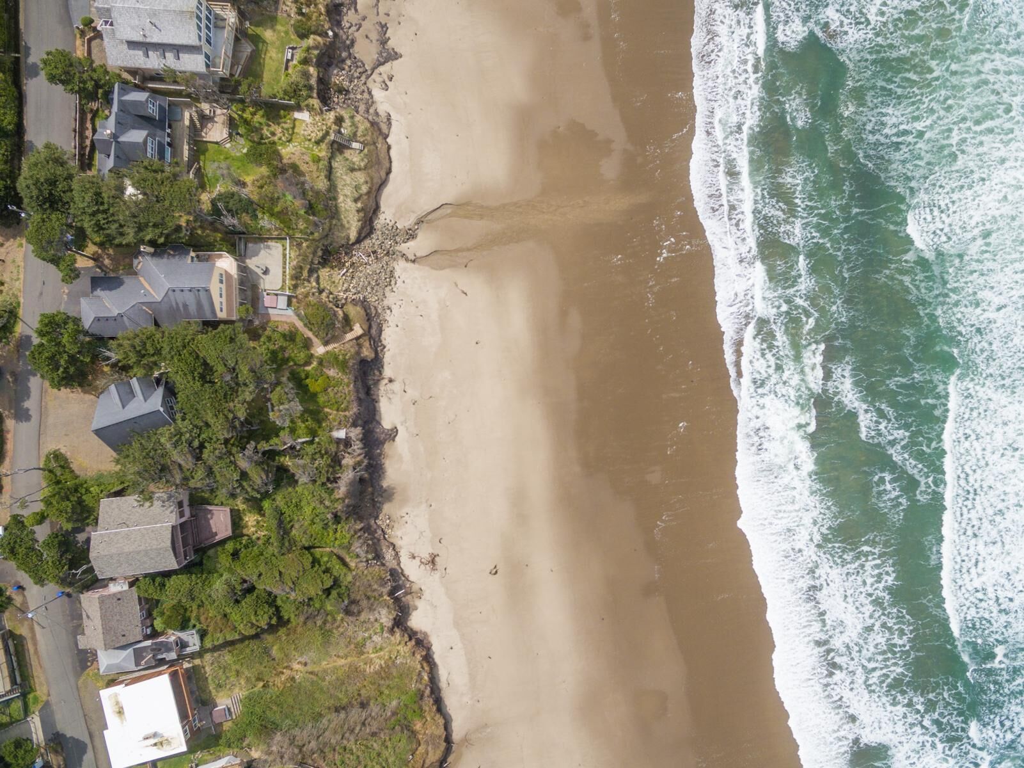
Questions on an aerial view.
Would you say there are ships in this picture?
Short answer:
No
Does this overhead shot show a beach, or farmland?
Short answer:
beach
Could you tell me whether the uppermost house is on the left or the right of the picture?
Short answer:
left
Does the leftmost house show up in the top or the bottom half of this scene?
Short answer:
bottom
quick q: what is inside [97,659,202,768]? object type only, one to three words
house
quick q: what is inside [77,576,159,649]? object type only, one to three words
house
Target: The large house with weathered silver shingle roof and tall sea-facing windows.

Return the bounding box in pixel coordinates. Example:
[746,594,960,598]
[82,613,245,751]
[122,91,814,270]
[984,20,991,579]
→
[94,0,225,86]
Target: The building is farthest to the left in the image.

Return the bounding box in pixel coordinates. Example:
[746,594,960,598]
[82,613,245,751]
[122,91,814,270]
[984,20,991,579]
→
[0,626,33,703]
